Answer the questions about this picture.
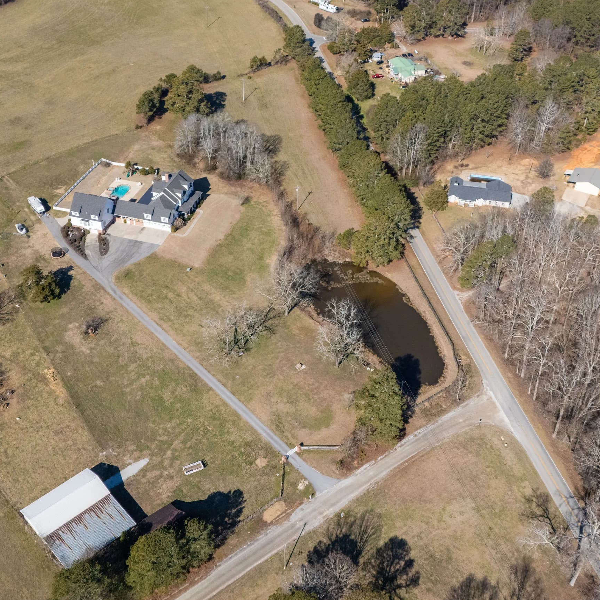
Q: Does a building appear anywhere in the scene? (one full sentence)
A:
Yes, this view includes a building.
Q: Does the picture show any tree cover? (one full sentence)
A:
Yes, the picture does contain tree cover.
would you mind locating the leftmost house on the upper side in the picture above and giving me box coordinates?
[67,193,117,232]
